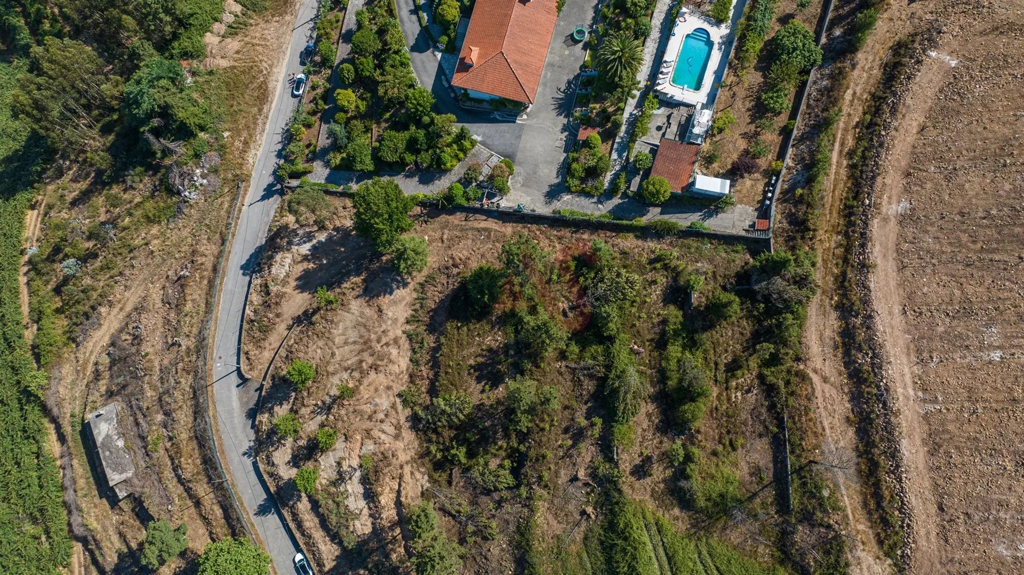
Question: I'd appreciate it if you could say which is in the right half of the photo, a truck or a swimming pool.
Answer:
swimming pool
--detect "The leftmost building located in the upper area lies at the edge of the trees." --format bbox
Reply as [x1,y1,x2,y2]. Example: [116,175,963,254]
[451,0,564,107]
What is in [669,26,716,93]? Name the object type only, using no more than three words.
swimming pool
